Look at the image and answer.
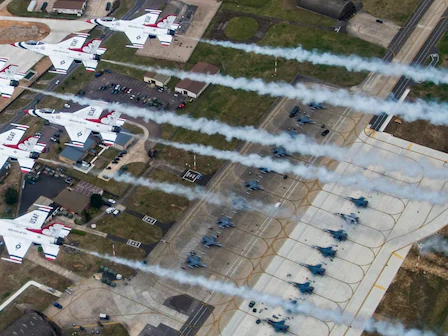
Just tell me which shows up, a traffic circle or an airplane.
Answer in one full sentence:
Visible in the photo is an airplane.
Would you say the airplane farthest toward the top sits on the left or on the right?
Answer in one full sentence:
The airplane farthest toward the top sits on the left side.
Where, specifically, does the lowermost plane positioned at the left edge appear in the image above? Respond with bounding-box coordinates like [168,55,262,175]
[0,204,72,264]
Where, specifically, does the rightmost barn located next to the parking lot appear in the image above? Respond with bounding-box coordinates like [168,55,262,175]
[176,62,219,99]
